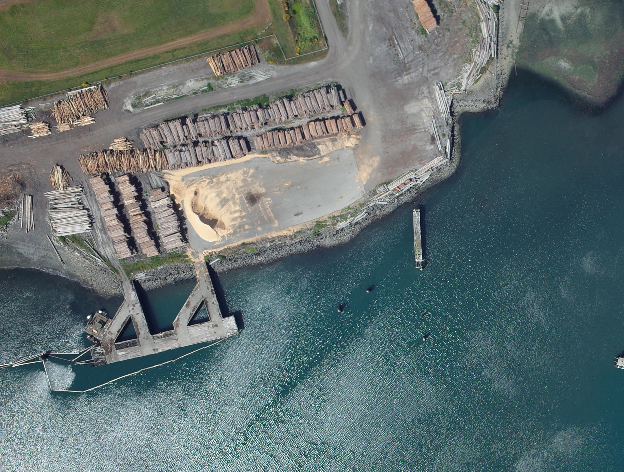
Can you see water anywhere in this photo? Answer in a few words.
Yes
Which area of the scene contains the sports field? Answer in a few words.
top left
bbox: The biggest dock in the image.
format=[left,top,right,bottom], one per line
[90,261,239,367]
